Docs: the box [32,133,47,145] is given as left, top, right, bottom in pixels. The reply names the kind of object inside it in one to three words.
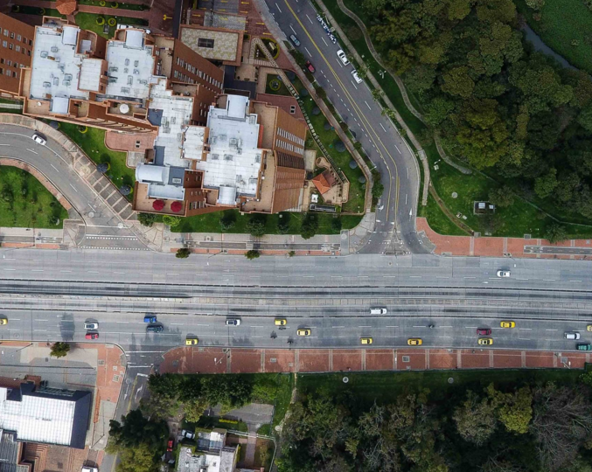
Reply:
vehicle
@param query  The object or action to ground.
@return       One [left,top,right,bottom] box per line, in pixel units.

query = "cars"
[274,318,287,326]
[476,329,492,335]
[361,338,373,344]
[297,330,311,336]
[500,321,515,328]
[226,318,242,325]
[587,326,592,332]
[0,318,7,326]
[147,325,163,331]
[84,323,99,329]
[352,70,364,84]
[180,429,197,439]
[478,339,493,345]
[305,60,315,73]
[496,270,511,276]
[564,333,580,339]
[86,333,99,339]
[32,133,47,145]
[290,33,300,47]
[408,339,422,345]
[185,339,199,345]
[337,50,349,66]
[577,344,592,351]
